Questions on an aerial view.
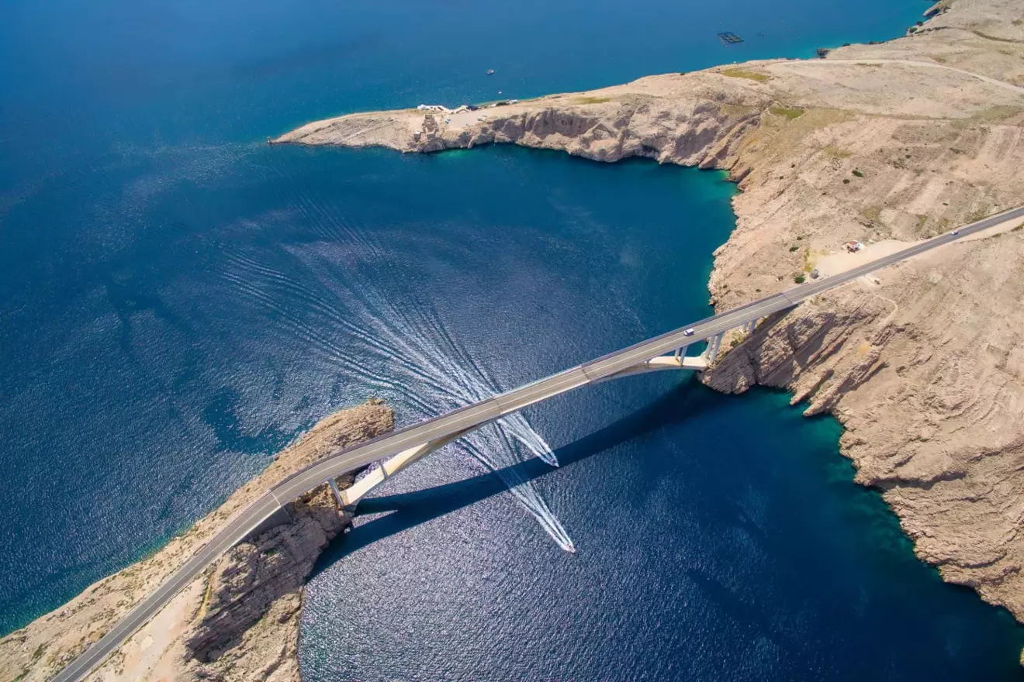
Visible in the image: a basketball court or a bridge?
bridge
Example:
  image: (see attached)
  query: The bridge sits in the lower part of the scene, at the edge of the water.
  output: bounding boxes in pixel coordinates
[189,283,817,582]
